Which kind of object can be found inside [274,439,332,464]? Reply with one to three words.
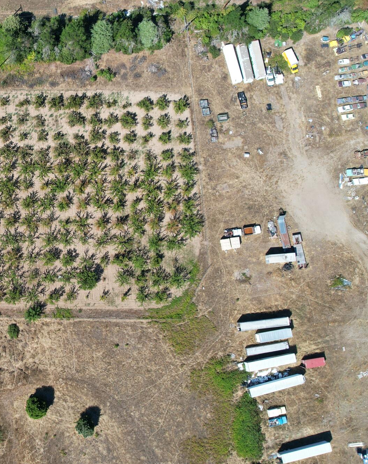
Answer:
trailer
